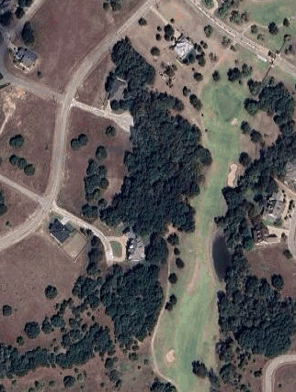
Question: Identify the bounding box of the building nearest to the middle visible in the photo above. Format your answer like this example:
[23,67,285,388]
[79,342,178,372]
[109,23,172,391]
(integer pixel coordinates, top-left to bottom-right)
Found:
[127,231,144,260]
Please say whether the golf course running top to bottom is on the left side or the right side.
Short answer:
right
